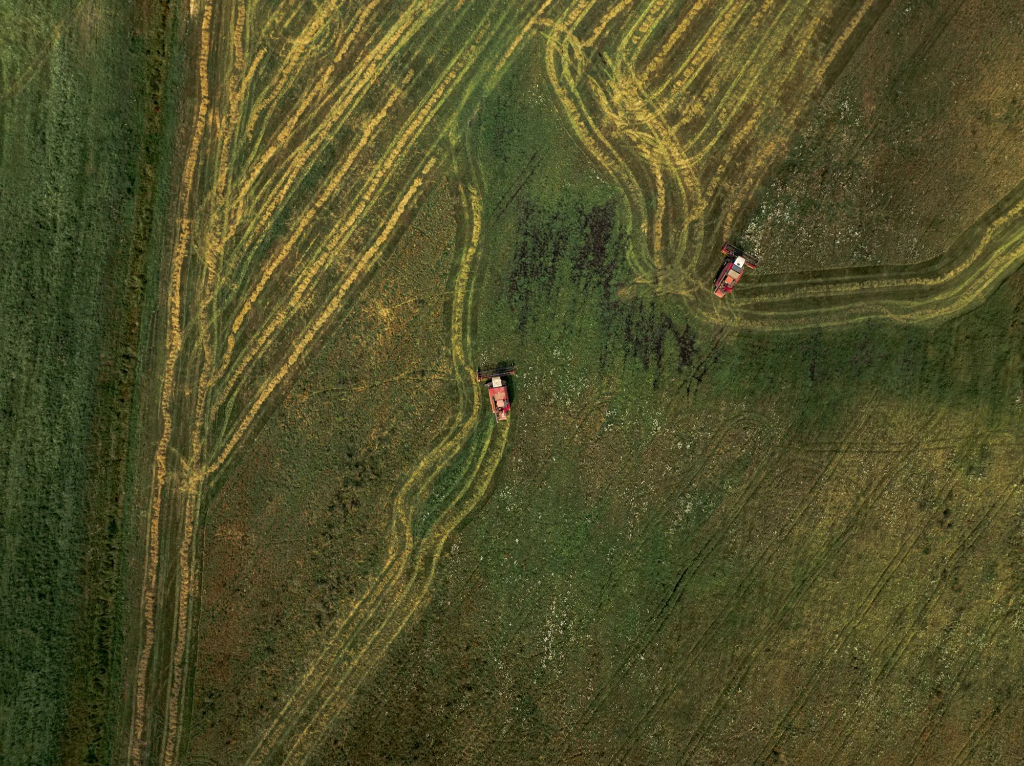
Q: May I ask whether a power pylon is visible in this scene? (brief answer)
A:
No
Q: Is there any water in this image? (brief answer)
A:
No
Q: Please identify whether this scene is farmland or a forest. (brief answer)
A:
farmland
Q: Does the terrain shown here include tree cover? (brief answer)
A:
No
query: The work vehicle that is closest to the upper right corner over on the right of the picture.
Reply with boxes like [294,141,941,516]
[711,240,760,301]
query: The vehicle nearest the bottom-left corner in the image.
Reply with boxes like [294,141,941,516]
[474,360,516,426]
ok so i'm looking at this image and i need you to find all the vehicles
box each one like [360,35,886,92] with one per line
[711,240,760,301]
[474,360,516,426]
